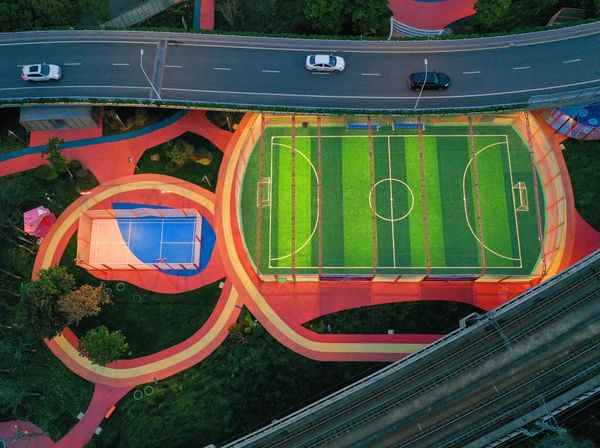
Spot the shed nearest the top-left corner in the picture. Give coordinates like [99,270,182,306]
[20,107,98,131]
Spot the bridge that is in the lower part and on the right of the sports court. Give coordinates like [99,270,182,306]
[220,247,600,448]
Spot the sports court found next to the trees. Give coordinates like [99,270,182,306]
[89,203,212,276]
